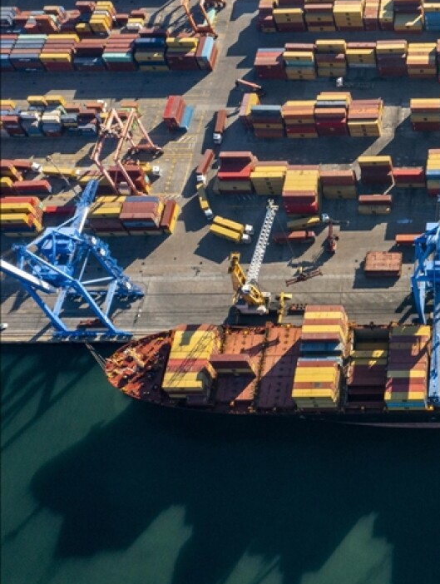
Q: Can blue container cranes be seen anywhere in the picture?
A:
Yes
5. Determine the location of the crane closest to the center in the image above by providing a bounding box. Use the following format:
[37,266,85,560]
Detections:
[214,200,322,325]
